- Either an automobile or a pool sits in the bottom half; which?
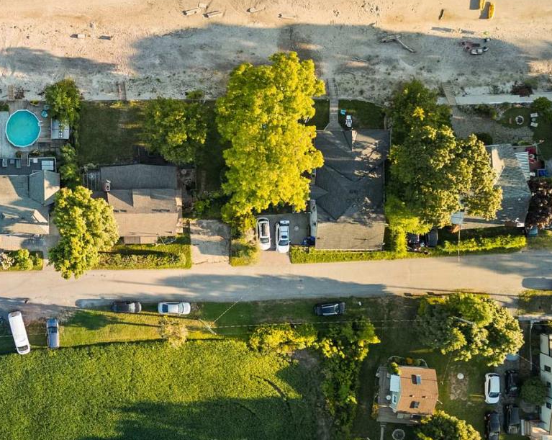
automobile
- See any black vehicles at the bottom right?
Yes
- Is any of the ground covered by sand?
Yes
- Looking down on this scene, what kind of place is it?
residential area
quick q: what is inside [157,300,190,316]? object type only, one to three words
car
